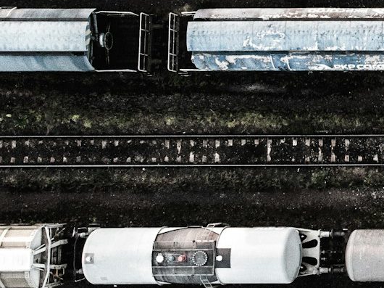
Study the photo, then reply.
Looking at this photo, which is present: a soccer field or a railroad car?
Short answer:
railroad car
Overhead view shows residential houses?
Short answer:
No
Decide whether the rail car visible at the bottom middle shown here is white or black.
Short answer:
white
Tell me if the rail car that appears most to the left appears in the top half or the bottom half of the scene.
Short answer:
bottom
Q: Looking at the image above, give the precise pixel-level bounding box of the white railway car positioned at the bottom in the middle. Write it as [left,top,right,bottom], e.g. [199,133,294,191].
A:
[65,221,331,288]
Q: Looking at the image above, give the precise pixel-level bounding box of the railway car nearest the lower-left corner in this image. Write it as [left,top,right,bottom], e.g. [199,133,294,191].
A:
[0,219,85,288]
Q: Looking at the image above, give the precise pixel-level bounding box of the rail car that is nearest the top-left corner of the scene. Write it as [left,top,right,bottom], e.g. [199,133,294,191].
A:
[0,7,176,76]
